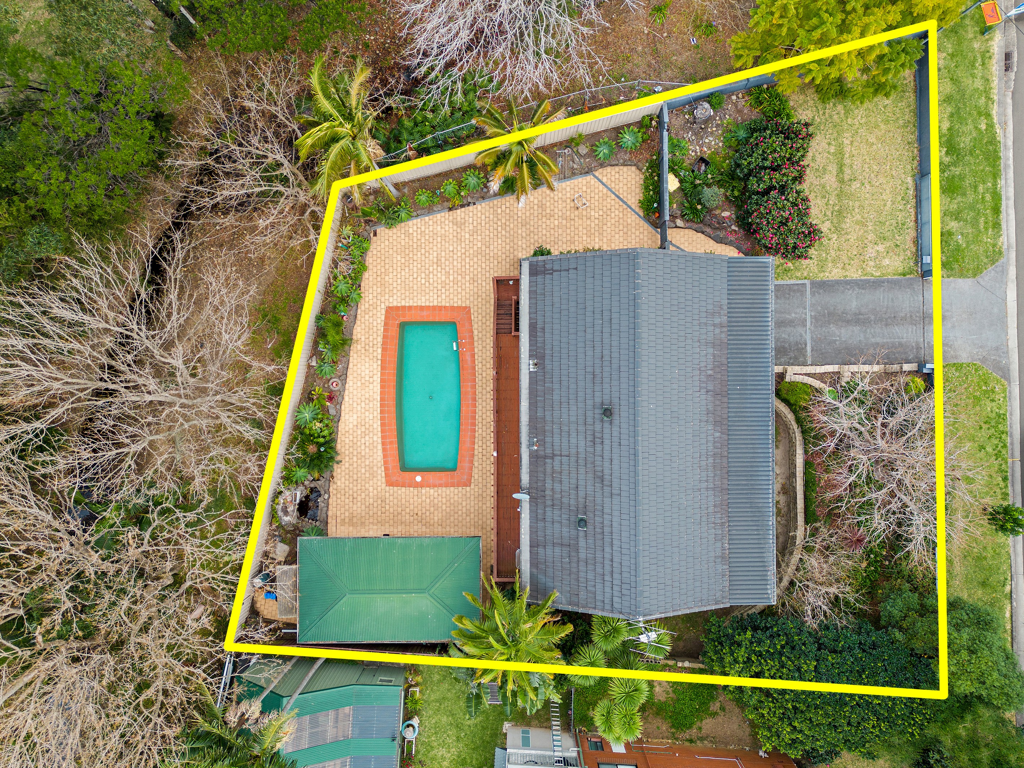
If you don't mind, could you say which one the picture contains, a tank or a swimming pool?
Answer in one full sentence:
Looking from above, you can make out a swimming pool.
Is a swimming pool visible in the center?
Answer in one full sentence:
Yes, a swimming pool appears in the center.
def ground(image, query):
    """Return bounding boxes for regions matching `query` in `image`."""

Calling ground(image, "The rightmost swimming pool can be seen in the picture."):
[380,305,476,488]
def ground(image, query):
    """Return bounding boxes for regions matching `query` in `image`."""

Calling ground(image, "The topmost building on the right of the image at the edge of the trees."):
[520,242,779,625]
